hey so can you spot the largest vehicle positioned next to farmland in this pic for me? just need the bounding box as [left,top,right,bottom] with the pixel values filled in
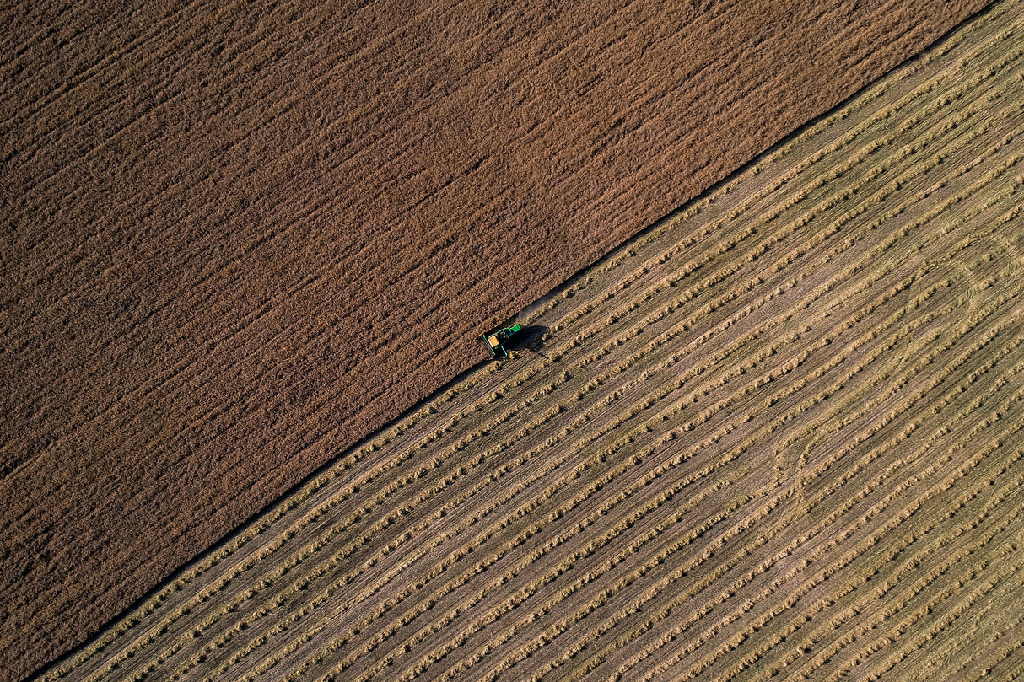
[477,323,523,358]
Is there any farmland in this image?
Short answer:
Yes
